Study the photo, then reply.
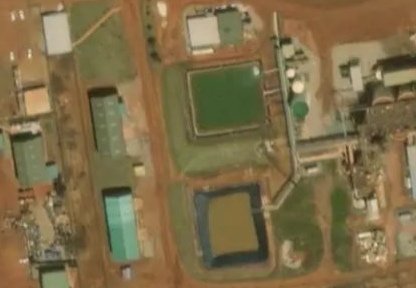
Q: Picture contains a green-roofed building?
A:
Yes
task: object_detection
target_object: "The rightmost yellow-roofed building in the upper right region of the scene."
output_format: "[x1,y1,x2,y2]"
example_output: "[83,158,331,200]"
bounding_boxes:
[383,70,416,87]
